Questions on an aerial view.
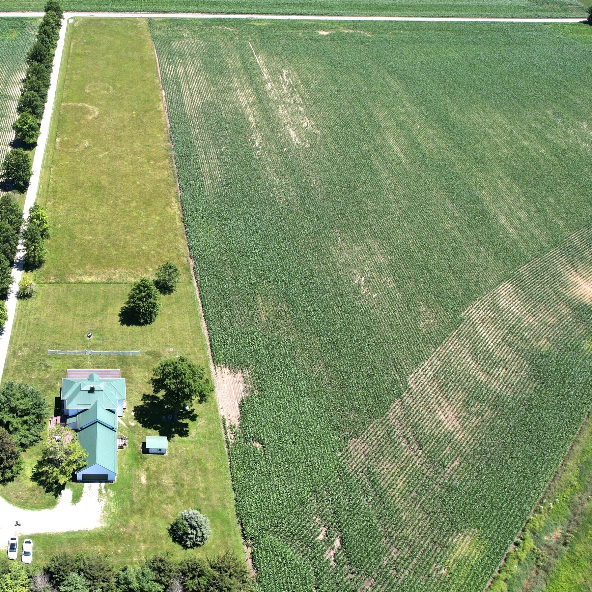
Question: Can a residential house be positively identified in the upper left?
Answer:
No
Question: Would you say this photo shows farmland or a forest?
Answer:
farmland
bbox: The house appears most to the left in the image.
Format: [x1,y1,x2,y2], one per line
[61,369,126,481]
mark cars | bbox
[6,534,18,561]
[20,538,33,566]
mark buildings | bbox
[146,436,168,453]
[61,369,126,481]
